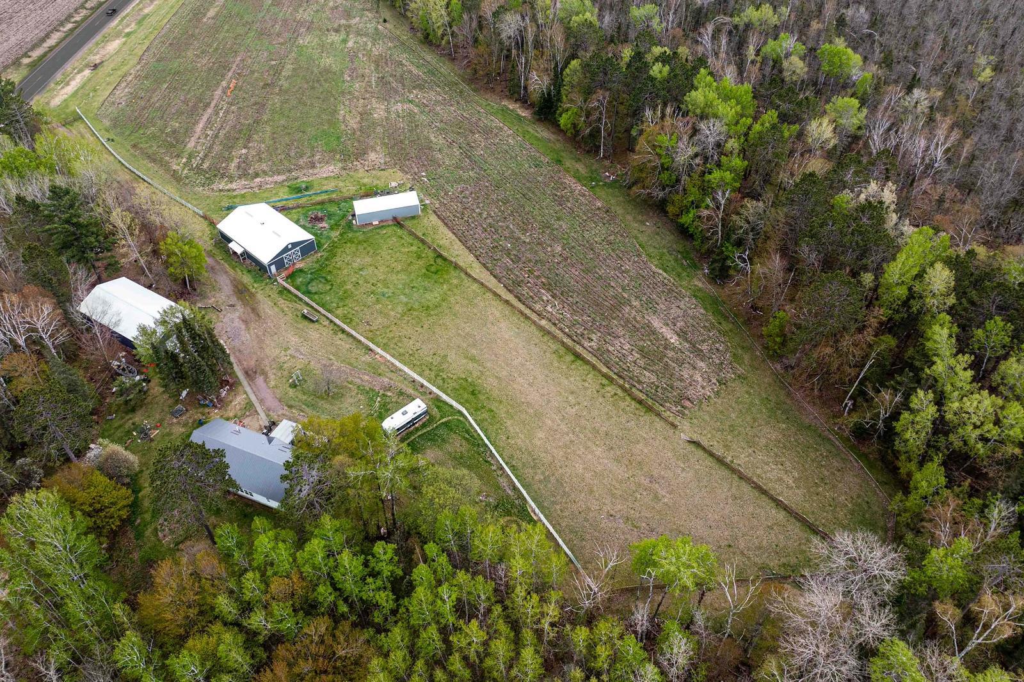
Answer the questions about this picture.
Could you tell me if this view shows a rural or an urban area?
rural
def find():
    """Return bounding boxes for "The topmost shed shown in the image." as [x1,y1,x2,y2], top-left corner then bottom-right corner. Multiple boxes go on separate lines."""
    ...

[352,189,420,223]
